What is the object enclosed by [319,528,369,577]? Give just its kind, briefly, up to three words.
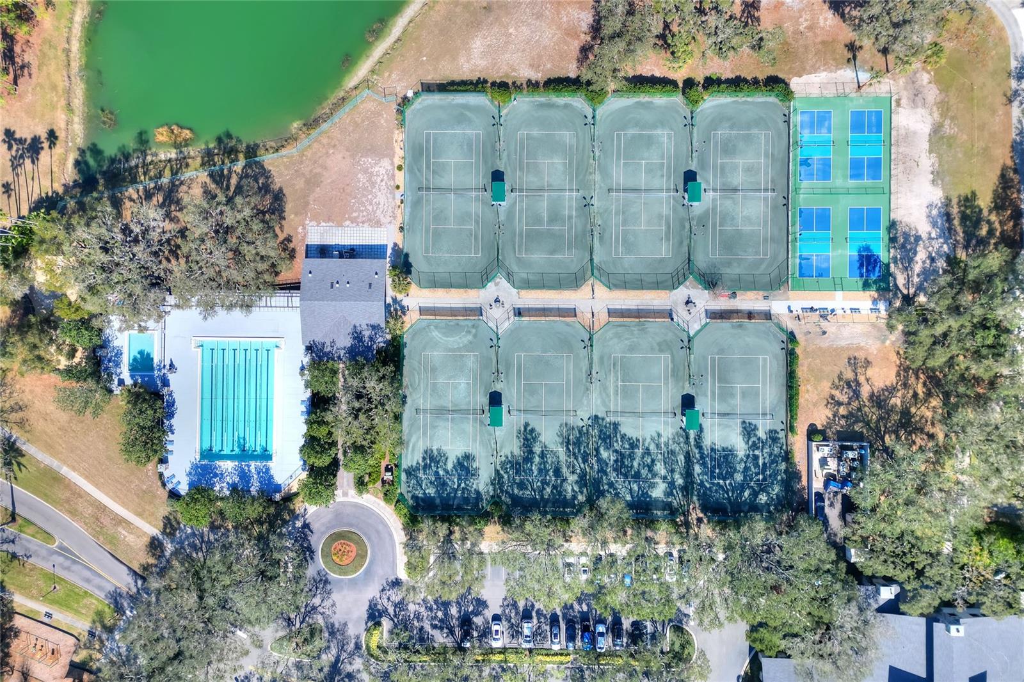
roundabout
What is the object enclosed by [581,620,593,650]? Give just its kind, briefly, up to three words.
vehicle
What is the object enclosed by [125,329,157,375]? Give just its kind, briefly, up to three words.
swimming pool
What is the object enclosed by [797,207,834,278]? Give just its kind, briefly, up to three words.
sports court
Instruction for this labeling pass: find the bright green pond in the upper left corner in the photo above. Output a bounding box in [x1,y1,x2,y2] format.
[98,0,400,149]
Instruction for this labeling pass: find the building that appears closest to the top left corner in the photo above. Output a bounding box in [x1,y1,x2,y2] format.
[300,259,388,362]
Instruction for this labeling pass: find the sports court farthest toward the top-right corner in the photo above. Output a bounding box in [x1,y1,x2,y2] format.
[848,110,887,180]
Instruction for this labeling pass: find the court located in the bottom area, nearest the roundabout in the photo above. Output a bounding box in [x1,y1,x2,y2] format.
[400,320,496,514]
